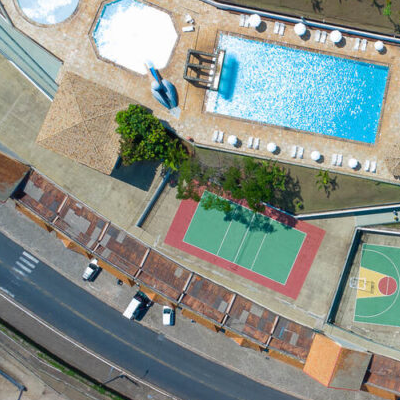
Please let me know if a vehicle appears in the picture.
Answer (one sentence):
Yes, I can see a vehicle in this picture.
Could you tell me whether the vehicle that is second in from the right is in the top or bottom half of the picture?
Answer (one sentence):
It is in the bottom half that the vehicle that is second in from the right appears.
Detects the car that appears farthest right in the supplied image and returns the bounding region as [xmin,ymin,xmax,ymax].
[162,305,174,326]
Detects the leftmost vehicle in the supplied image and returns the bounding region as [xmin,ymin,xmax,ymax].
[83,258,99,280]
